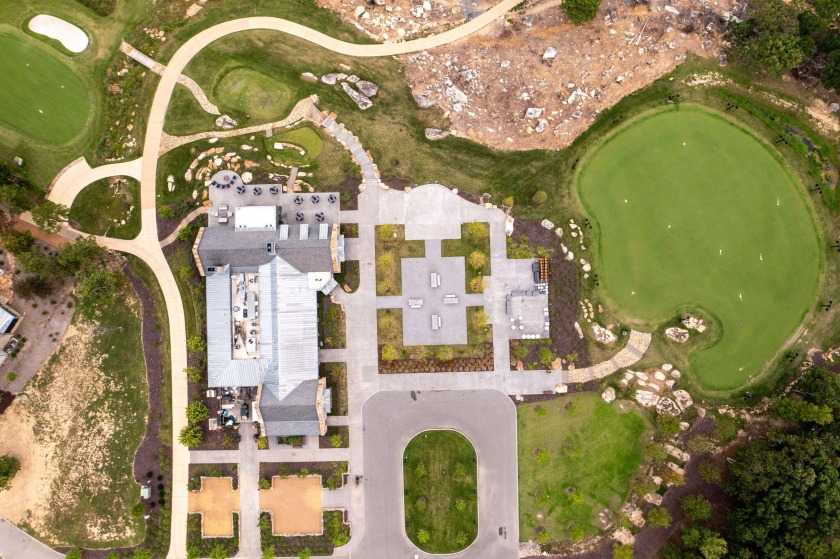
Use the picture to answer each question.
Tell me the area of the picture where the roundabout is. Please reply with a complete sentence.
The roundabout is located in the bottom region of the scene.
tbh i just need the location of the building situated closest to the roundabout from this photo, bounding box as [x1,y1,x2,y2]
[188,206,345,437]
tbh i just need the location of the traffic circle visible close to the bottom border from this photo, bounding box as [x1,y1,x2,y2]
[357,391,518,559]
